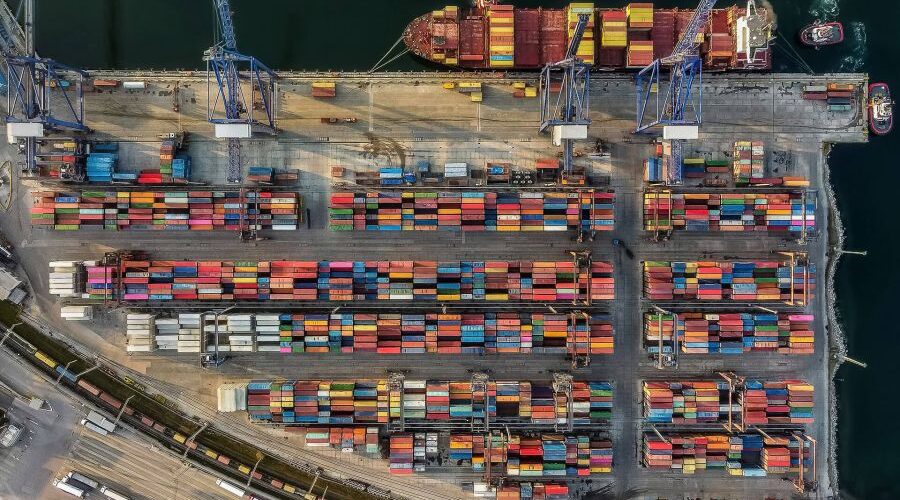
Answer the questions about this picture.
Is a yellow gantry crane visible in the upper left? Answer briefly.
No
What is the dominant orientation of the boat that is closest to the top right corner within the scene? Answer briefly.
from side to side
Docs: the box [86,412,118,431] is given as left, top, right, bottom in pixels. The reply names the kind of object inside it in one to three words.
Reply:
vehicle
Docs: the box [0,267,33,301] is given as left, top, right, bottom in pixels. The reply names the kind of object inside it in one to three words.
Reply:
building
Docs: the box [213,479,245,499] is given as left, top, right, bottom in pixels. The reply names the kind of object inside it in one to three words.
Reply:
vehicle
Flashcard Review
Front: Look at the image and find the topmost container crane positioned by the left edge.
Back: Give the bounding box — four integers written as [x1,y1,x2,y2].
[0,0,102,170]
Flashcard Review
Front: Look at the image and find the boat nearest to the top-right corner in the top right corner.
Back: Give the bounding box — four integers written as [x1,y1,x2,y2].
[798,24,843,47]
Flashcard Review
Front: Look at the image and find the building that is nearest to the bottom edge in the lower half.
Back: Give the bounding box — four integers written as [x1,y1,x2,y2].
[0,421,31,449]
